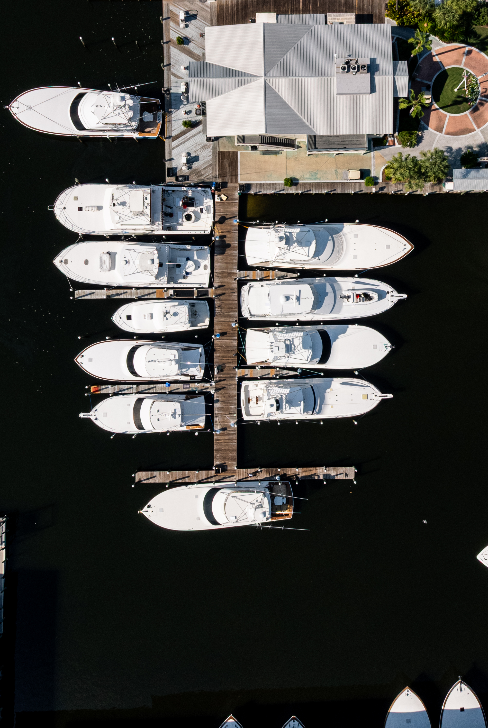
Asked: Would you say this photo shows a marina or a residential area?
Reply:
marina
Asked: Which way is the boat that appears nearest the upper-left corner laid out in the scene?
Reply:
from left to right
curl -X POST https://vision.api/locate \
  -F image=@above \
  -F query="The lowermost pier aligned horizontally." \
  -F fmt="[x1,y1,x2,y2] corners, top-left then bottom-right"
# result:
[135,465,356,483]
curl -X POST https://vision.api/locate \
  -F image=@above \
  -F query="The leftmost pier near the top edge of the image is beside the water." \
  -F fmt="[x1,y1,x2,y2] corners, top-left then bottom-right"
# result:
[163,0,227,186]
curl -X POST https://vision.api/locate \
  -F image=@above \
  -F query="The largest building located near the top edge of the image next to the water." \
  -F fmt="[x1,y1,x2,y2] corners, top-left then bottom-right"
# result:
[189,13,409,154]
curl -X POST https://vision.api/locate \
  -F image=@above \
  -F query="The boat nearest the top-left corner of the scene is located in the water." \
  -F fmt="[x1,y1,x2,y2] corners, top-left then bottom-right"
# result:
[2,81,163,141]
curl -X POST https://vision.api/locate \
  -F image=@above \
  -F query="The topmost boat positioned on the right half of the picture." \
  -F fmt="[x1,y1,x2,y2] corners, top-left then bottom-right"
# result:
[231,218,413,271]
